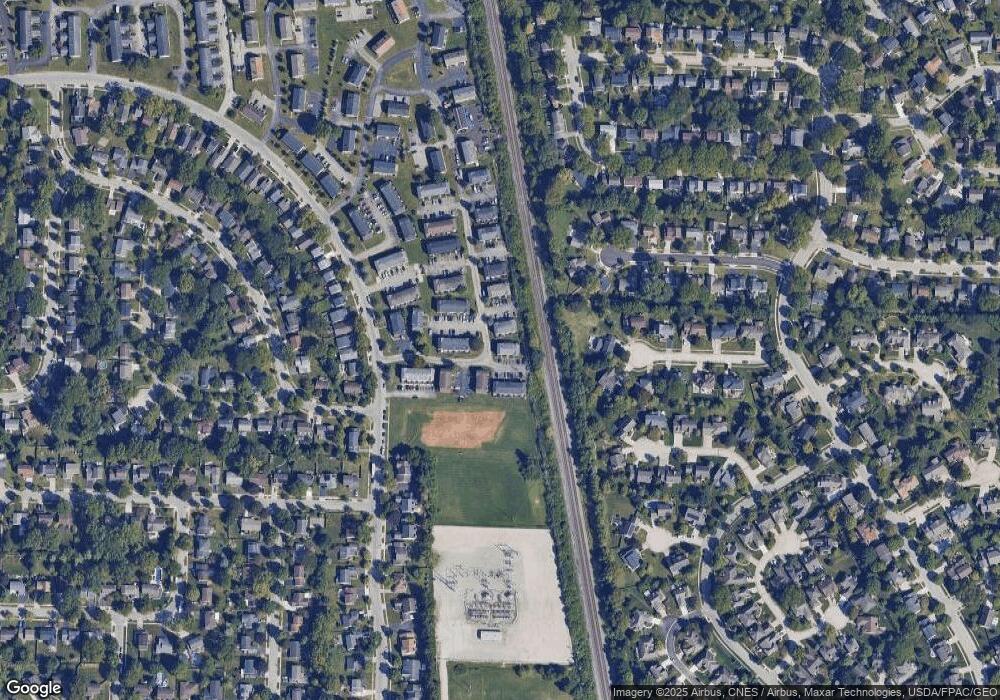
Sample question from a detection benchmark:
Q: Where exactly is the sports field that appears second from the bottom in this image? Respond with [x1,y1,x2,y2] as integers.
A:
[433,447,546,526]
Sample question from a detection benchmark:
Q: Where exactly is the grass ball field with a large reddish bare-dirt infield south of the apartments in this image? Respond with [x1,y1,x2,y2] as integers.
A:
[388,398,537,452]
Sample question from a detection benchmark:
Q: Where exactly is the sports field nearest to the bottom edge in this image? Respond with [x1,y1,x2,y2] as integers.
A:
[447,664,580,700]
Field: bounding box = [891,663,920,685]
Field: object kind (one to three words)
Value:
house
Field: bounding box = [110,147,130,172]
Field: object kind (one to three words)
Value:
house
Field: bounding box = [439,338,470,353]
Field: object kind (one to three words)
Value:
building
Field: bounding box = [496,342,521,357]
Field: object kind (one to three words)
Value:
building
